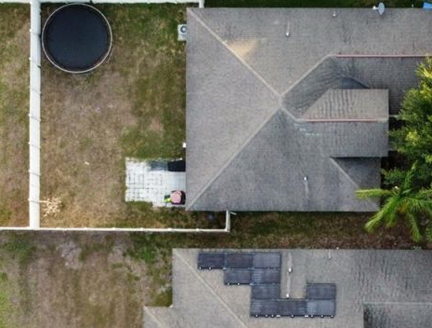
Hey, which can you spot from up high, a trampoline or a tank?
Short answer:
trampoline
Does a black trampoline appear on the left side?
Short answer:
Yes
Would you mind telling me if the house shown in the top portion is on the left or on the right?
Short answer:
right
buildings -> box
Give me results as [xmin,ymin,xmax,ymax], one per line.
[186,7,432,212]
[143,248,432,328]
